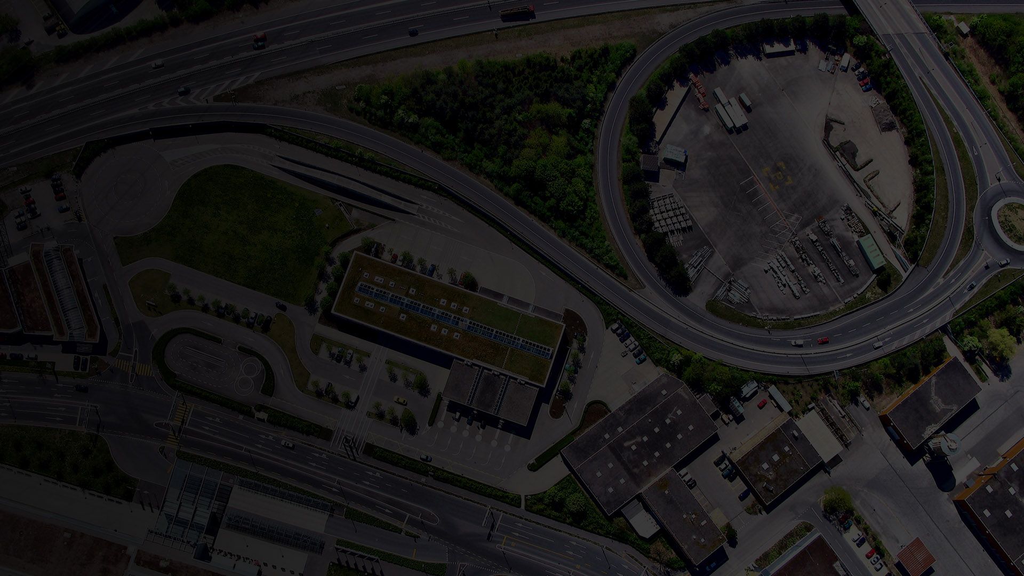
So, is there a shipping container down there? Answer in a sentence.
Yes, the picture does show a shipping container.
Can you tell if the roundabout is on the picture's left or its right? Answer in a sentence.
It is on the right.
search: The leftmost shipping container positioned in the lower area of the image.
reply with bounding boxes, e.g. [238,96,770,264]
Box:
[766,388,792,413]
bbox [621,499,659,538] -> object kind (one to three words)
shed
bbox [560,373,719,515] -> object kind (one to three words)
building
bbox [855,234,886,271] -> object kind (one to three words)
shed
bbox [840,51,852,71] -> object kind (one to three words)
vehicle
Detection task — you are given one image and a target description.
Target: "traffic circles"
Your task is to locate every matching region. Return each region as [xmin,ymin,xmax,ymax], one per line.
[939,143,1024,292]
